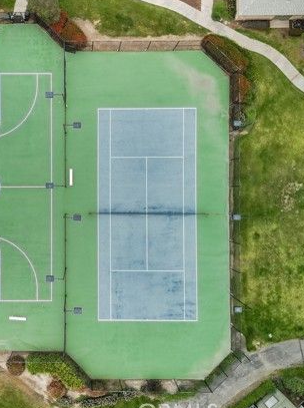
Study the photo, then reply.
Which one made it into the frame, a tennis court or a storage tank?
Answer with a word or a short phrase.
tennis court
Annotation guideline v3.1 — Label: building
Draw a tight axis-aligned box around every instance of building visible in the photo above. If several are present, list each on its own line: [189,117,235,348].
[234,0,304,27]
[254,386,304,408]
